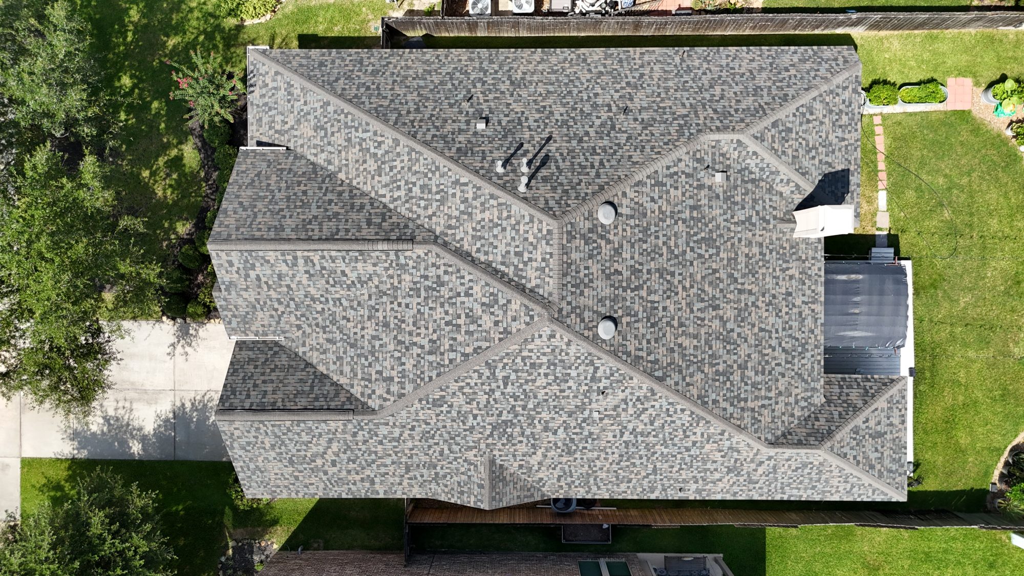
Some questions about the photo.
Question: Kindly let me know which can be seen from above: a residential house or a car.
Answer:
residential house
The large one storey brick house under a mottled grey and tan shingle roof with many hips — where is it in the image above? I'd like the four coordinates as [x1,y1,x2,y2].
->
[207,45,909,510]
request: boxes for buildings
[207,45,909,510]
[254,548,654,576]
